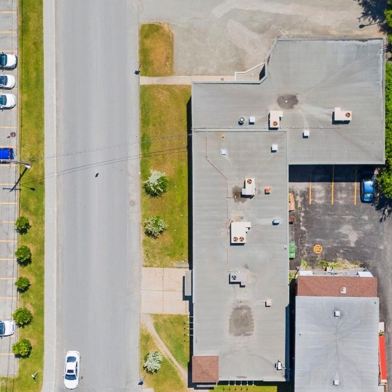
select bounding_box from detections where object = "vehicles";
[360,169,377,203]
[0,321,16,339]
[0,147,15,163]
[0,51,18,69]
[0,71,17,91]
[62,350,80,389]
[0,92,17,111]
